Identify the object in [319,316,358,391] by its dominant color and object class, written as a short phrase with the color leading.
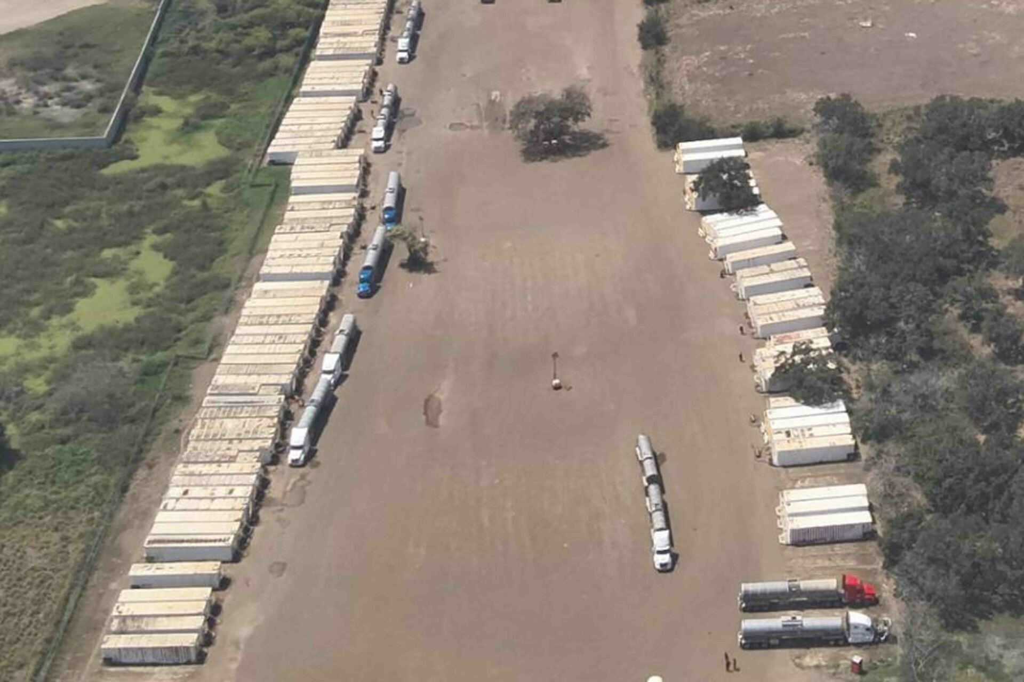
white truck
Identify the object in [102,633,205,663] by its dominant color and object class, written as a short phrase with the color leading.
white trailer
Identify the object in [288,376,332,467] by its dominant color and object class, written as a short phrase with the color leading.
white truck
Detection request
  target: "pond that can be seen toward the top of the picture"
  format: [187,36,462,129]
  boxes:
[0,86,242,401]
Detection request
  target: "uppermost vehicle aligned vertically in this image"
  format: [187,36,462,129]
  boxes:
[397,0,421,63]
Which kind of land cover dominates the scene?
paved ground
